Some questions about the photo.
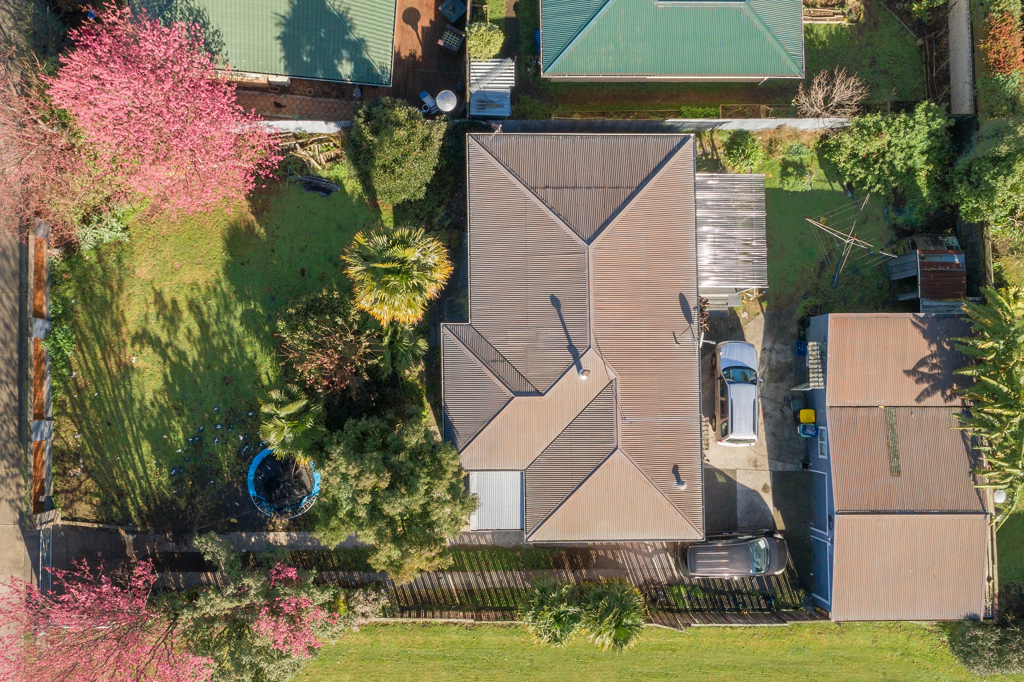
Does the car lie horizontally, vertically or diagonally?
vertically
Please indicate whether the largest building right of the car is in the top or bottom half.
bottom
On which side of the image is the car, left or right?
right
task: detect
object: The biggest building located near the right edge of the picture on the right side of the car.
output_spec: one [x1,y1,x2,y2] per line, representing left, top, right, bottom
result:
[792,314,987,622]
